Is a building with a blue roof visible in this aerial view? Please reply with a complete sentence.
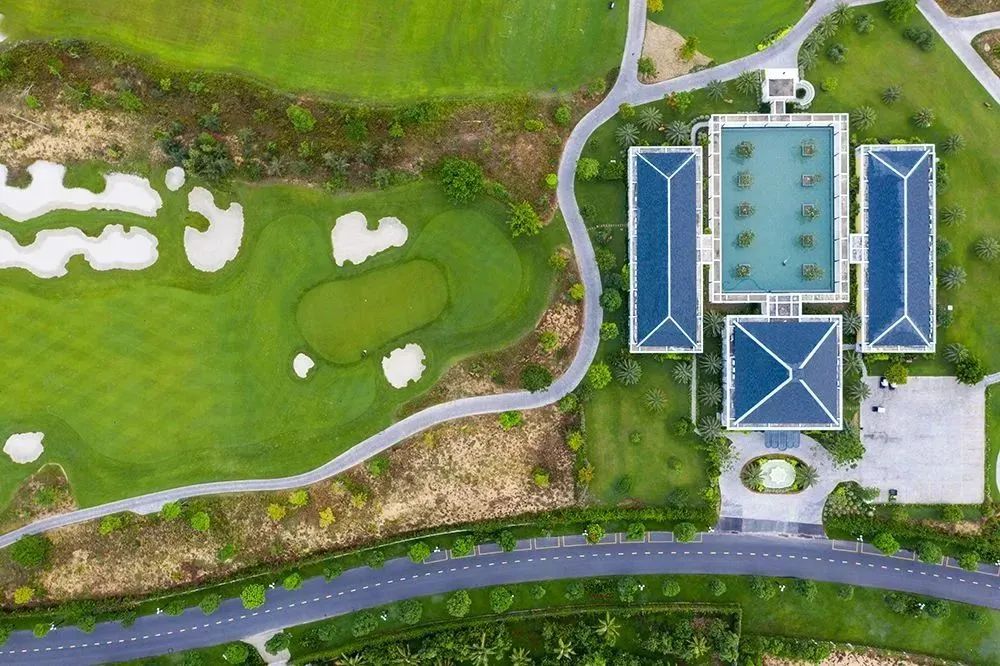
Yes, you can see a building with a blue roof in this photo.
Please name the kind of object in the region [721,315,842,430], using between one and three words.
building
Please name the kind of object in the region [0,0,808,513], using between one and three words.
golf course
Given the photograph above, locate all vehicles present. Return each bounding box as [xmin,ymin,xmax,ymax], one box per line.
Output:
[878,377,890,391]
[889,489,898,502]
[886,380,900,393]
[871,406,888,413]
